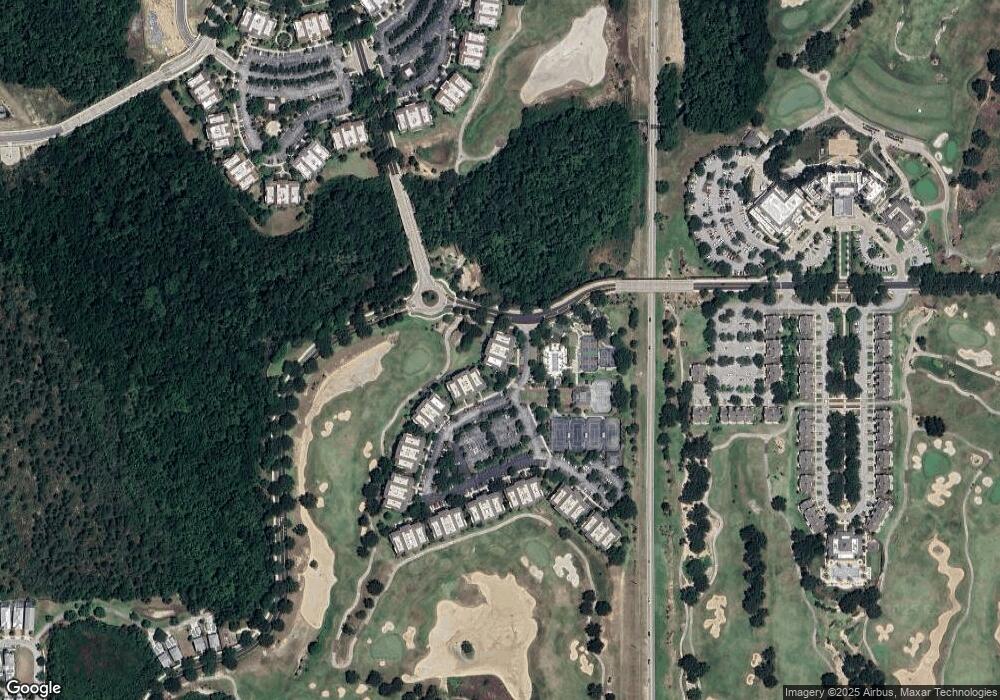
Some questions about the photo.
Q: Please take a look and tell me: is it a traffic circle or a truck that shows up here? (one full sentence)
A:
I can see a traffic circle in this picture.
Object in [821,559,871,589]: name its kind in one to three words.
swimming pool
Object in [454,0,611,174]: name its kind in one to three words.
golf course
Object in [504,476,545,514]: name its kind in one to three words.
building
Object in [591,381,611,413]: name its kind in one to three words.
sports court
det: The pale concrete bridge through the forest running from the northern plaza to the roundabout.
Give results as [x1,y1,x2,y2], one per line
[387,162,430,277]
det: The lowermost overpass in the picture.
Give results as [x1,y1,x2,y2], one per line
[558,279,787,315]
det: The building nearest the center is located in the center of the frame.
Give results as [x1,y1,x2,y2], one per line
[479,329,517,370]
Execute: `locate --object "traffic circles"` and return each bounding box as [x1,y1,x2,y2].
[404,272,457,322]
